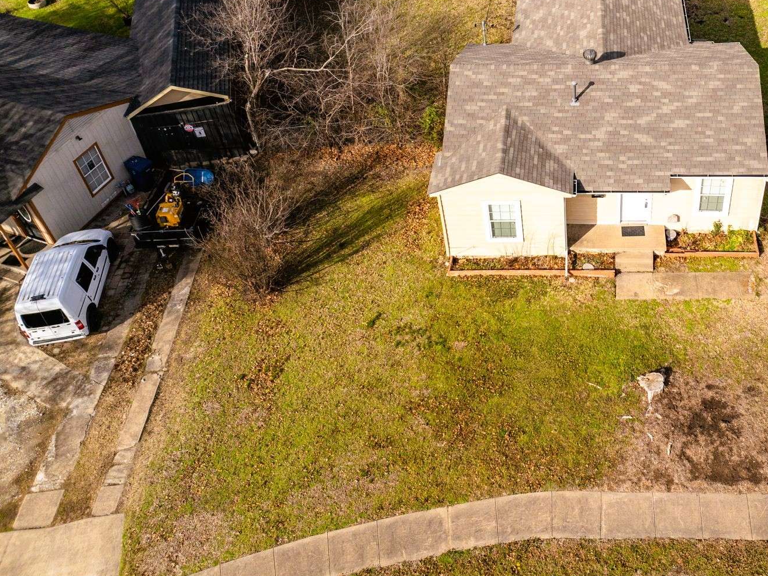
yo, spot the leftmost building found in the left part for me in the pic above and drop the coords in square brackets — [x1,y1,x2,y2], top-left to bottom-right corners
[0,4,139,280]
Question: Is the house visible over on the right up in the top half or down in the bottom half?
top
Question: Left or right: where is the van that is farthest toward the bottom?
left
